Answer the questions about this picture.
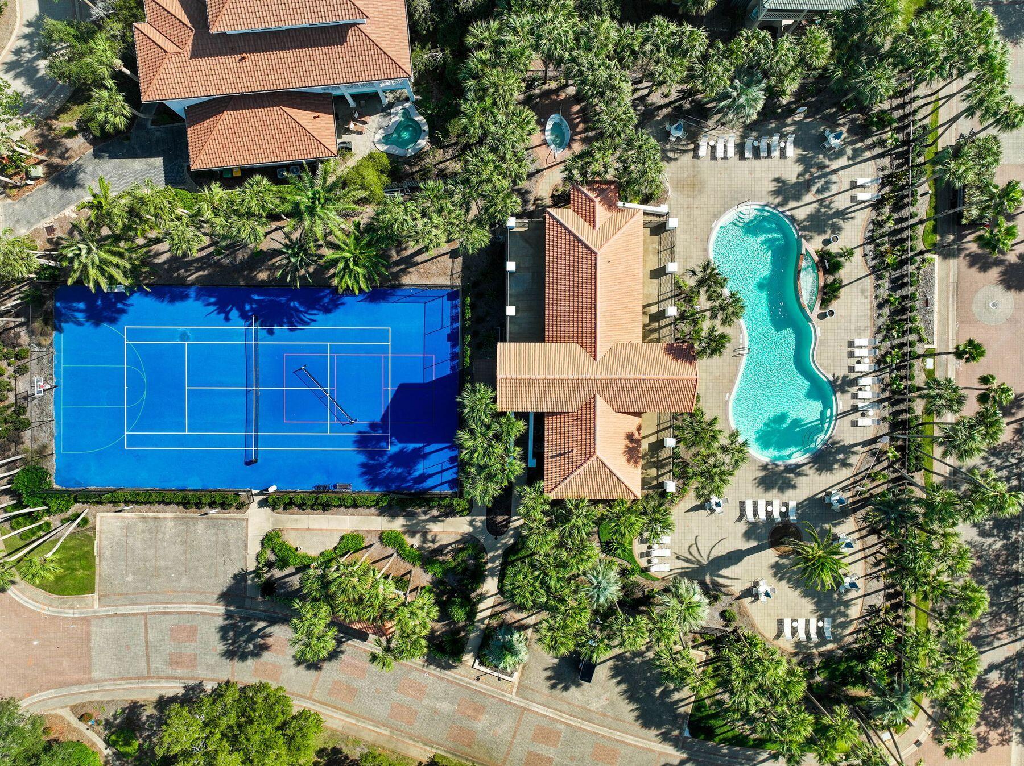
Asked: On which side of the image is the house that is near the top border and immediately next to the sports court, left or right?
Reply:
left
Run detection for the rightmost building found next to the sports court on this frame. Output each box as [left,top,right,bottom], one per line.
[496,179,704,501]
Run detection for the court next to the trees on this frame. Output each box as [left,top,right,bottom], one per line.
[54,287,459,492]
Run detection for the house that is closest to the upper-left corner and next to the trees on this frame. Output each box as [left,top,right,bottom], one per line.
[132,0,418,172]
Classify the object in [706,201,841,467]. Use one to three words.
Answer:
swimming pool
